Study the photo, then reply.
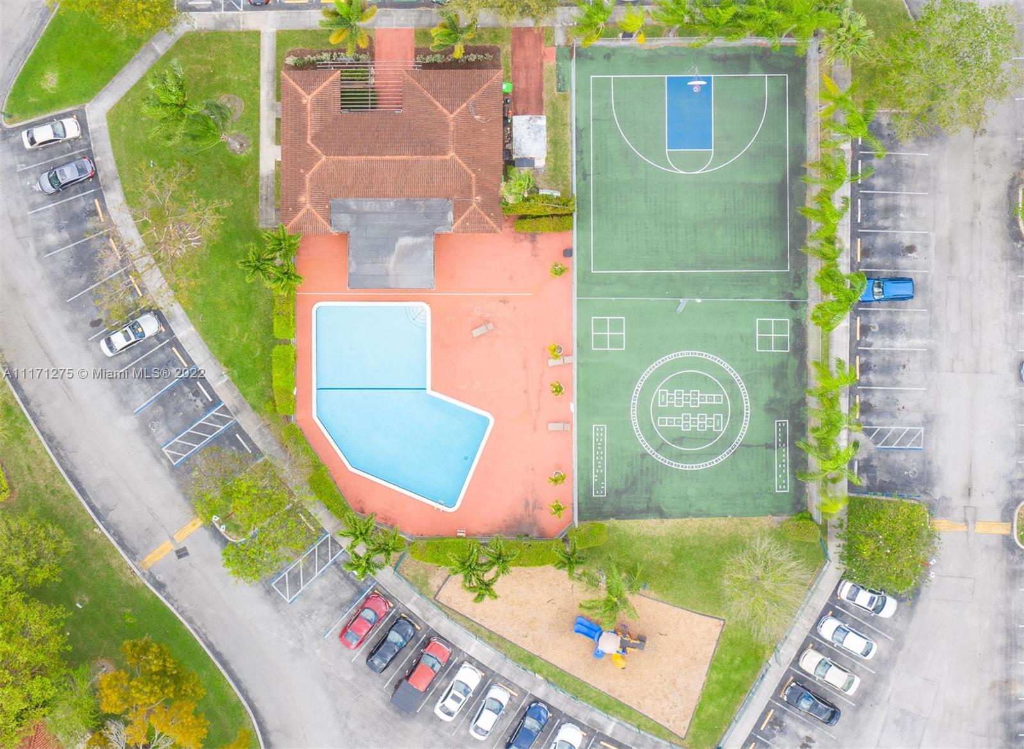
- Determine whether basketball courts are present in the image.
Yes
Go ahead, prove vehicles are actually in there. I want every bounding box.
[795,648,862,698]
[339,590,389,649]
[434,659,483,721]
[814,613,879,661]
[856,276,913,304]
[38,158,99,195]
[390,632,451,715]
[97,310,165,358]
[366,613,416,672]
[502,697,546,749]
[780,679,843,728]
[544,718,579,749]
[432,0,449,5]
[22,116,84,150]
[835,578,897,616]
[468,681,511,741]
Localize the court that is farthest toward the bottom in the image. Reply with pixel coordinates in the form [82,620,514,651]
[576,298,808,521]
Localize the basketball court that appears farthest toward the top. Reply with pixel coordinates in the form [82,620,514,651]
[576,47,808,299]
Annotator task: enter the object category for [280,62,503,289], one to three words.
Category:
building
